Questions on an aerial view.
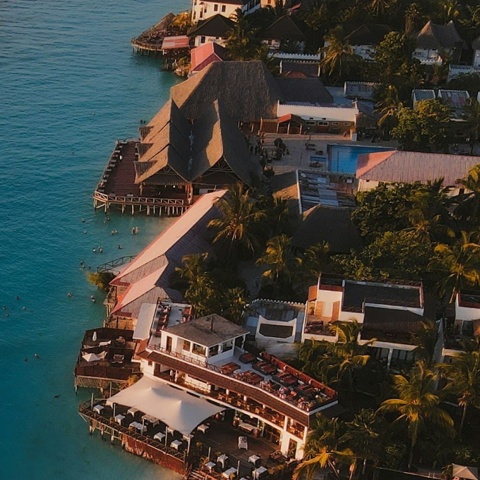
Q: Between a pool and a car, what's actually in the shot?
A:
pool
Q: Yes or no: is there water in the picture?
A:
Yes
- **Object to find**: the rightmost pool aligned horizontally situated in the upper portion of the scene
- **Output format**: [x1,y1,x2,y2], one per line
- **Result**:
[327,144,399,175]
